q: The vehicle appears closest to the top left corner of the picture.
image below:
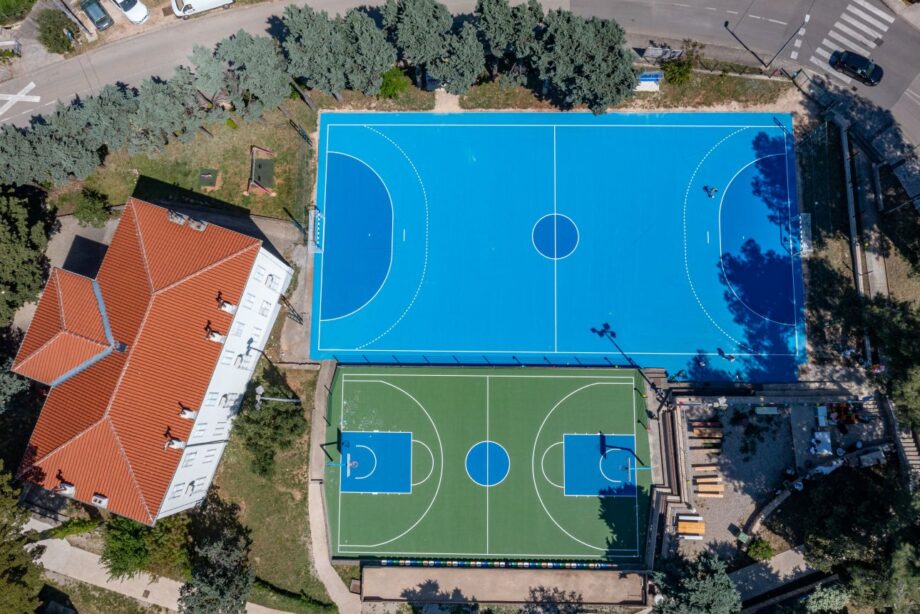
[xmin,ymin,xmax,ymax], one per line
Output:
[79,0,114,31]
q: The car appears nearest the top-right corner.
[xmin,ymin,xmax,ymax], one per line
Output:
[827,49,887,84]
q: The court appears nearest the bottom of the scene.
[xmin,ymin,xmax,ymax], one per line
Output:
[328,368,651,566]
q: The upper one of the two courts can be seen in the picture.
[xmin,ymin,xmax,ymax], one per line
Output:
[310,111,807,384]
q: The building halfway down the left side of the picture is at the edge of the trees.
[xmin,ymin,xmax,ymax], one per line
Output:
[8,195,296,529]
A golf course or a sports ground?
sports ground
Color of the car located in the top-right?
black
